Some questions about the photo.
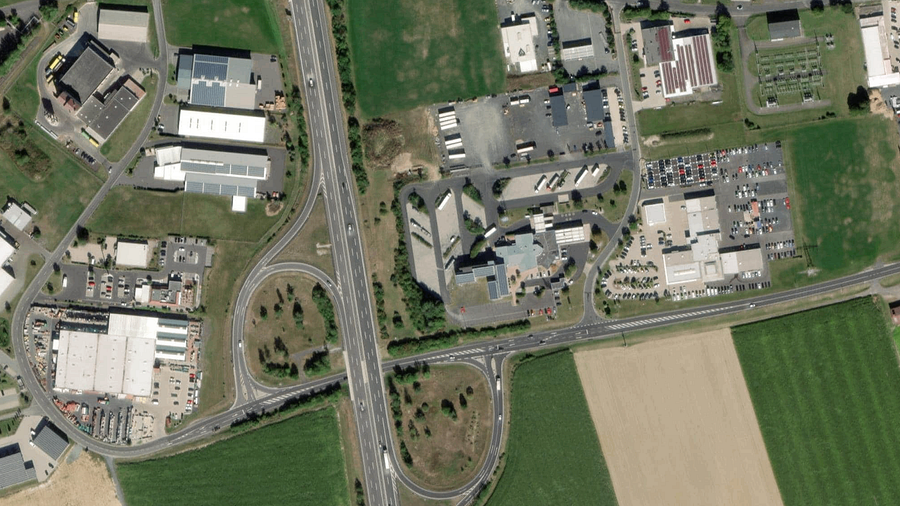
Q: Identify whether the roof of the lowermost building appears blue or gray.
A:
gray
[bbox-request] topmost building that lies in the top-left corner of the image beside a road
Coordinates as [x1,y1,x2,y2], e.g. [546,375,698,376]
[98,10,150,43]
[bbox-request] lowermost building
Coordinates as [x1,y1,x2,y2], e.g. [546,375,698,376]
[0,452,39,490]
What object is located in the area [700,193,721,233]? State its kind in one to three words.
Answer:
building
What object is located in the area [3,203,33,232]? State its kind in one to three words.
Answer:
building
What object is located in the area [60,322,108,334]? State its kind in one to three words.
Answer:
house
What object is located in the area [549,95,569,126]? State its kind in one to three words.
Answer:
shed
